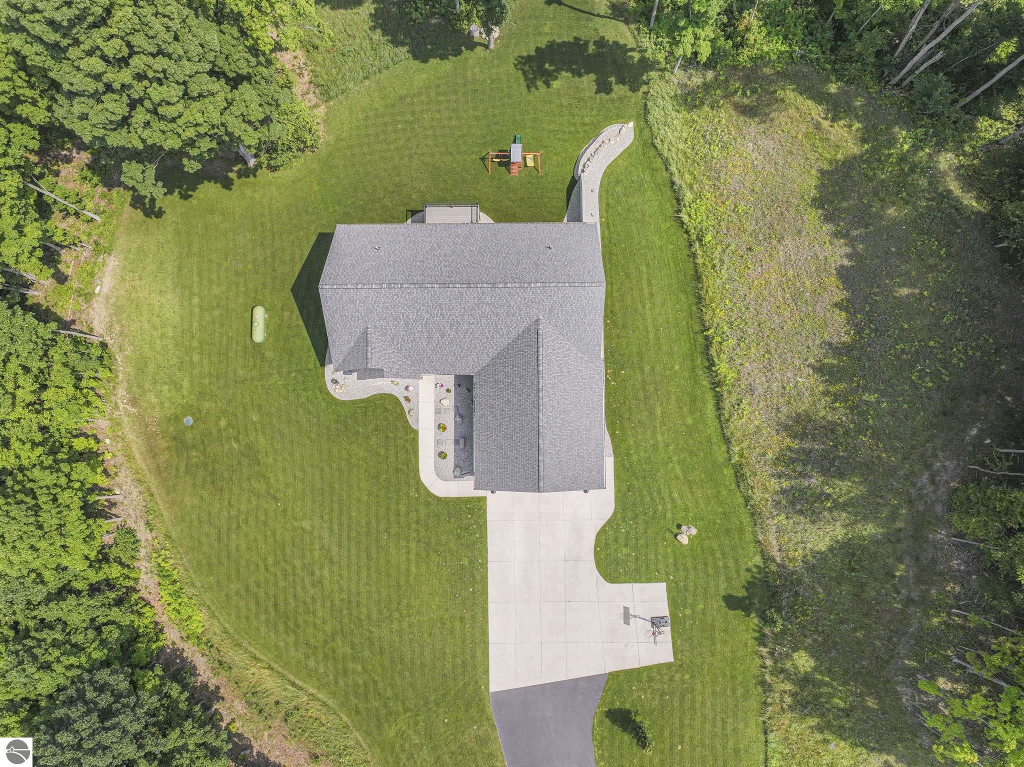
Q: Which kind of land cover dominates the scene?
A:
grass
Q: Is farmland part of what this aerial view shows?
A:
No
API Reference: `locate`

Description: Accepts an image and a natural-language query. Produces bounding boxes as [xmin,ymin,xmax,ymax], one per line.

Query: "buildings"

[319,221,609,494]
